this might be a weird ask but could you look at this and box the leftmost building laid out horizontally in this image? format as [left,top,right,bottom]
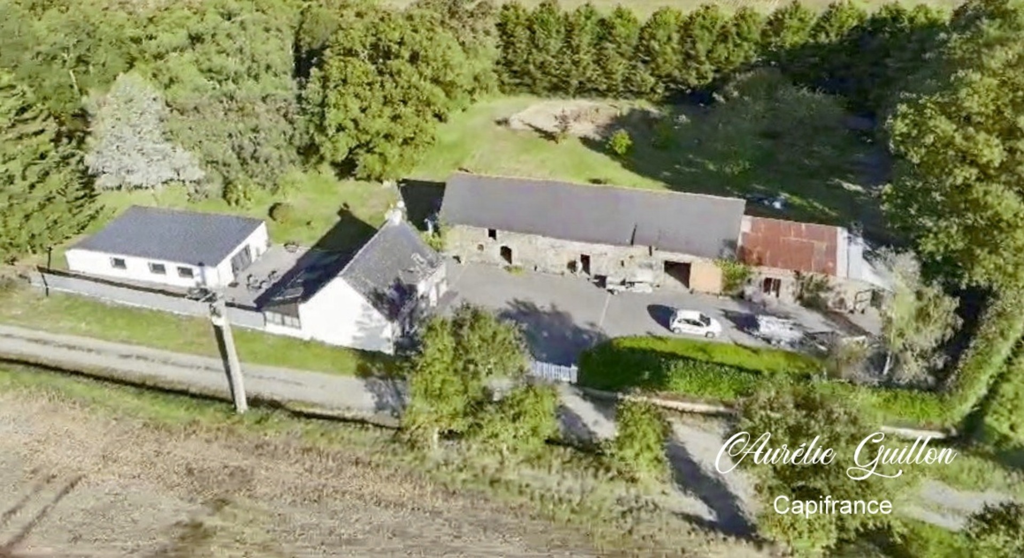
[57,203,265,288]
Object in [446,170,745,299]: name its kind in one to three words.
barn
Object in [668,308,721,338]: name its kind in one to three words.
car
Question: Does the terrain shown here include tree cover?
Yes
